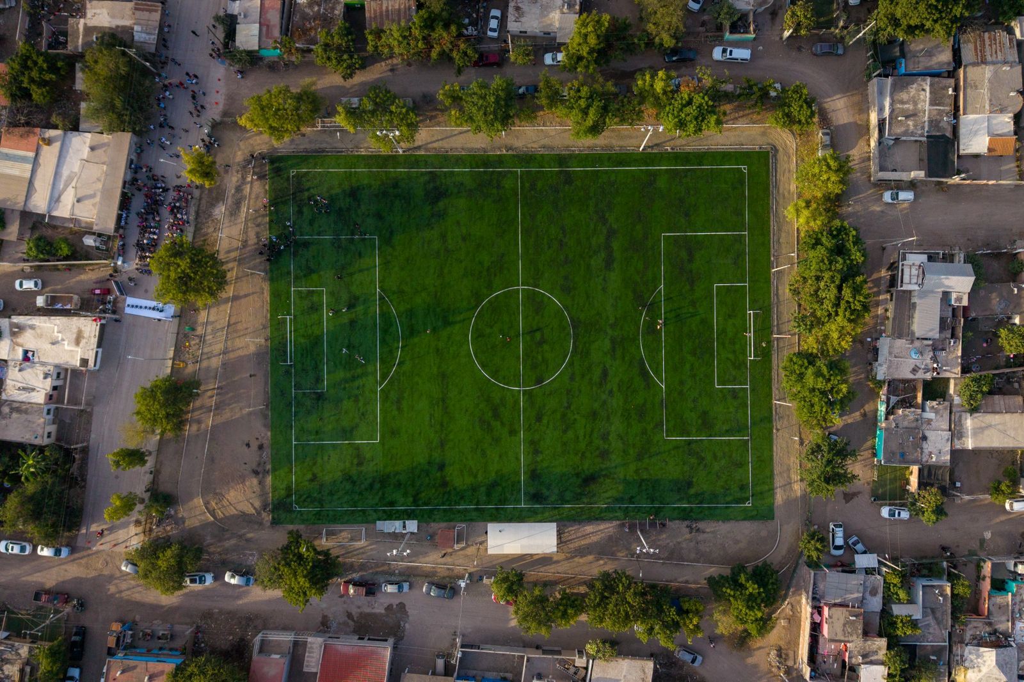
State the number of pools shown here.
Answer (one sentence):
I count no pools.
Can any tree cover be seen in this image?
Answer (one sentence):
Yes, there is tree cover in the image.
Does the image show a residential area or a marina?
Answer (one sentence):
This image shows a residential area.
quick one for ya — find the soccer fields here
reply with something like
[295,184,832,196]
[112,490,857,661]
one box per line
[267,149,776,526]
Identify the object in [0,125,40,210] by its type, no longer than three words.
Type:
house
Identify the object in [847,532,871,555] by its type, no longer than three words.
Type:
car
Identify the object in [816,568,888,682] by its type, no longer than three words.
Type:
house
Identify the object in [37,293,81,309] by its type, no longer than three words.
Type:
vehicle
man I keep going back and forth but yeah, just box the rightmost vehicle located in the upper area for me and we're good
[881,189,914,203]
